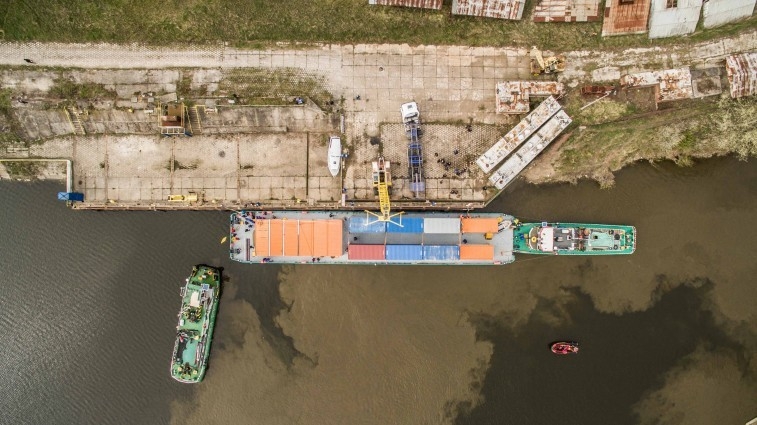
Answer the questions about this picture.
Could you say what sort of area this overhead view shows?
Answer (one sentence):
It's a port.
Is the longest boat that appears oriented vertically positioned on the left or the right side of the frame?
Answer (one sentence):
It is on the left.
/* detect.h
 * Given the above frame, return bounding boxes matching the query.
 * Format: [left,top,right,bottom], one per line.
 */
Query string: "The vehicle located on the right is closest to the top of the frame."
[529,47,564,77]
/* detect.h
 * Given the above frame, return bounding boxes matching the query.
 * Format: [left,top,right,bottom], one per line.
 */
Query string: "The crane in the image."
[367,157,396,220]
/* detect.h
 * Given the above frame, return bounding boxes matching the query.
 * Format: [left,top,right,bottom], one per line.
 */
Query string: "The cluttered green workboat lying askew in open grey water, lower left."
[170,262,223,387]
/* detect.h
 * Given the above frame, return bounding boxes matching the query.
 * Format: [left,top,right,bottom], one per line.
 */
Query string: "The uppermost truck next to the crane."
[401,100,422,149]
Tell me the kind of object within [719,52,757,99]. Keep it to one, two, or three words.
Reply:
shed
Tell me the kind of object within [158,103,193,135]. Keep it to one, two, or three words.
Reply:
house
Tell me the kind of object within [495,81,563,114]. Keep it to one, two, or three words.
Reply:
shed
